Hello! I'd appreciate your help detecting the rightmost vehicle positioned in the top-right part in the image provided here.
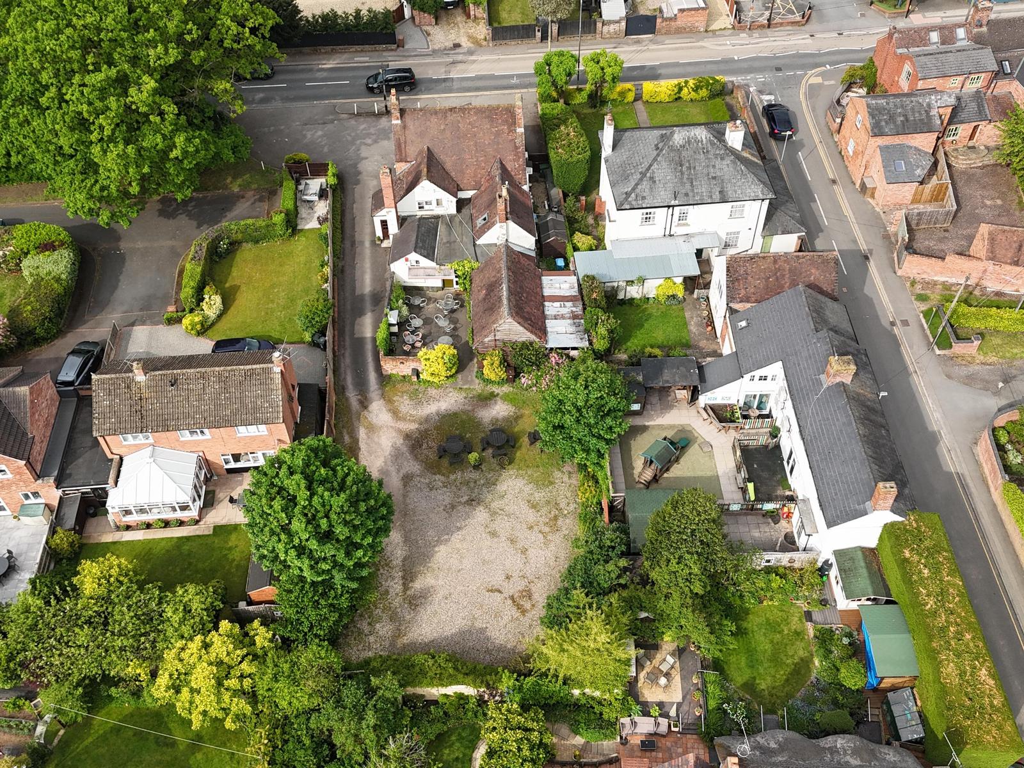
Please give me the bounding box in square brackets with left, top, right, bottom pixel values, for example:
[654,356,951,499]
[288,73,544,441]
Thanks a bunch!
[758,105,800,143]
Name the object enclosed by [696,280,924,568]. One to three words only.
building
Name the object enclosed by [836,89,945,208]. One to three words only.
house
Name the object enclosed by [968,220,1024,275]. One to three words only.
shed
